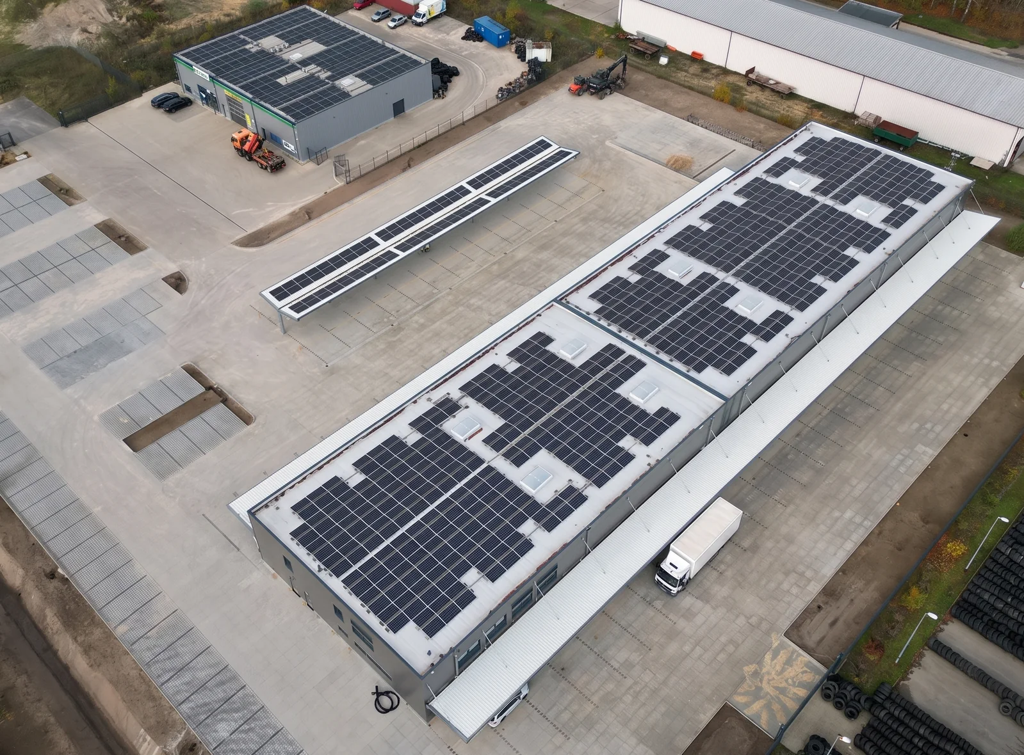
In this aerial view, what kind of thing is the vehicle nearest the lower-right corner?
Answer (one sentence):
I'd say the vehicle nearest the lower-right corner is a truck.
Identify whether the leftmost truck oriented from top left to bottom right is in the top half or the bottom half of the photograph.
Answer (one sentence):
The leftmost truck oriented from top left to bottom right is in the top half of the image.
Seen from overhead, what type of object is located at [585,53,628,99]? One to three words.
work vehicle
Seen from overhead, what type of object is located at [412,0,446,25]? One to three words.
vehicle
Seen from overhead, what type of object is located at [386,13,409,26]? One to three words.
vehicle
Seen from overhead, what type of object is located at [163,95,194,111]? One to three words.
car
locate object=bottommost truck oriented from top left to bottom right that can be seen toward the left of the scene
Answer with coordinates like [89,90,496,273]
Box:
[229,128,283,171]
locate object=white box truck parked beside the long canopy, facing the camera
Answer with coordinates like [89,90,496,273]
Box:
[655,497,743,595]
